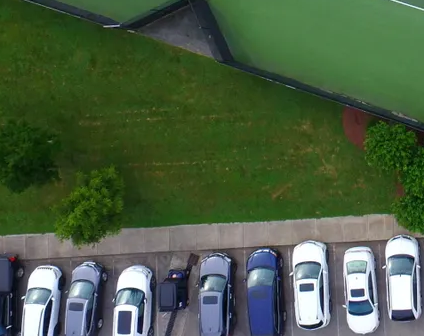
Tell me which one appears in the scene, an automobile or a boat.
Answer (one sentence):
It is an automobile that can be seen here.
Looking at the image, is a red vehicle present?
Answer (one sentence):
No, the picture doesn't show any red vehicle.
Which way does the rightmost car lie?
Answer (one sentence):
The rightmost car is laid out up and down.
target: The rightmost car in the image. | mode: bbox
[382,233,423,325]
